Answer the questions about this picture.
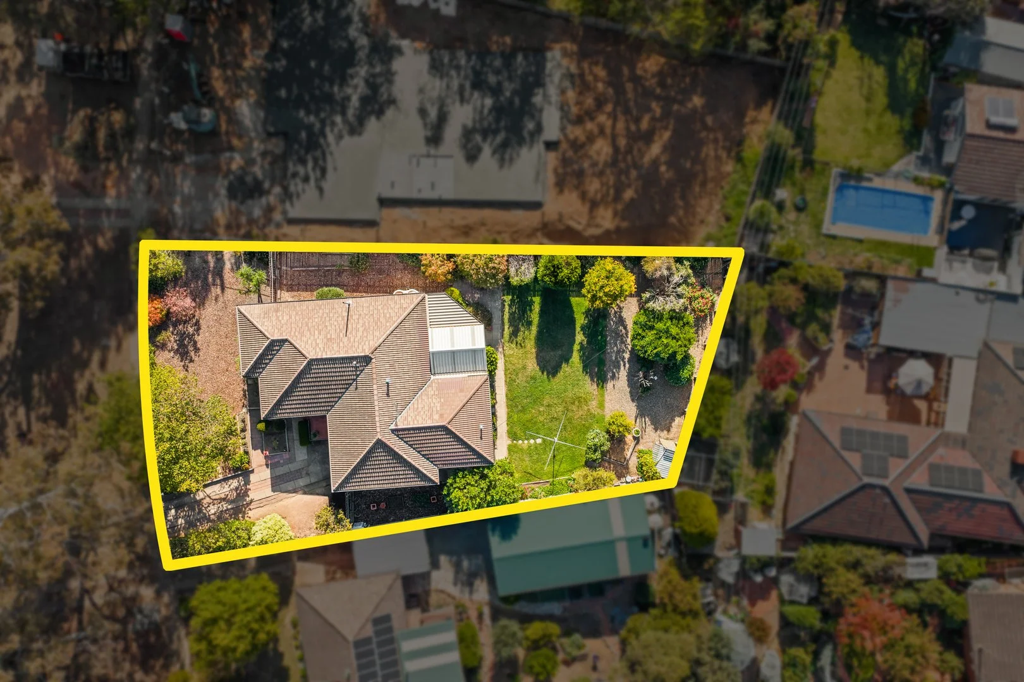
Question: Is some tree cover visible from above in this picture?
Yes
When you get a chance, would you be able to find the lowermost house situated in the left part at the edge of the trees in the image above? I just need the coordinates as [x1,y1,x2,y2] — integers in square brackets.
[293,572,416,682]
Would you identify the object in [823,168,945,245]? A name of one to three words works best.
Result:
swimming pool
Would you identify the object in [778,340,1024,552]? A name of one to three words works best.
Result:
house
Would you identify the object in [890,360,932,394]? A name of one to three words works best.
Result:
umbrella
